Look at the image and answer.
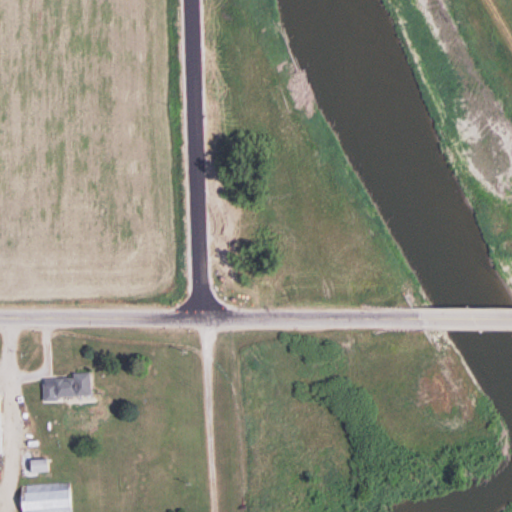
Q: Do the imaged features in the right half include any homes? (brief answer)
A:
No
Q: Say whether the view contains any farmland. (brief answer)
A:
Yes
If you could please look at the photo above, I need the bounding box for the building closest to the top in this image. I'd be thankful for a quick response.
[42,372,98,409]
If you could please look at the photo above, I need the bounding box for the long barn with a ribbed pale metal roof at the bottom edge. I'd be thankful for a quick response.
[20,484,70,512]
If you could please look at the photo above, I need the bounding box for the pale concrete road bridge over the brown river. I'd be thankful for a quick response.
[418,306,512,334]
